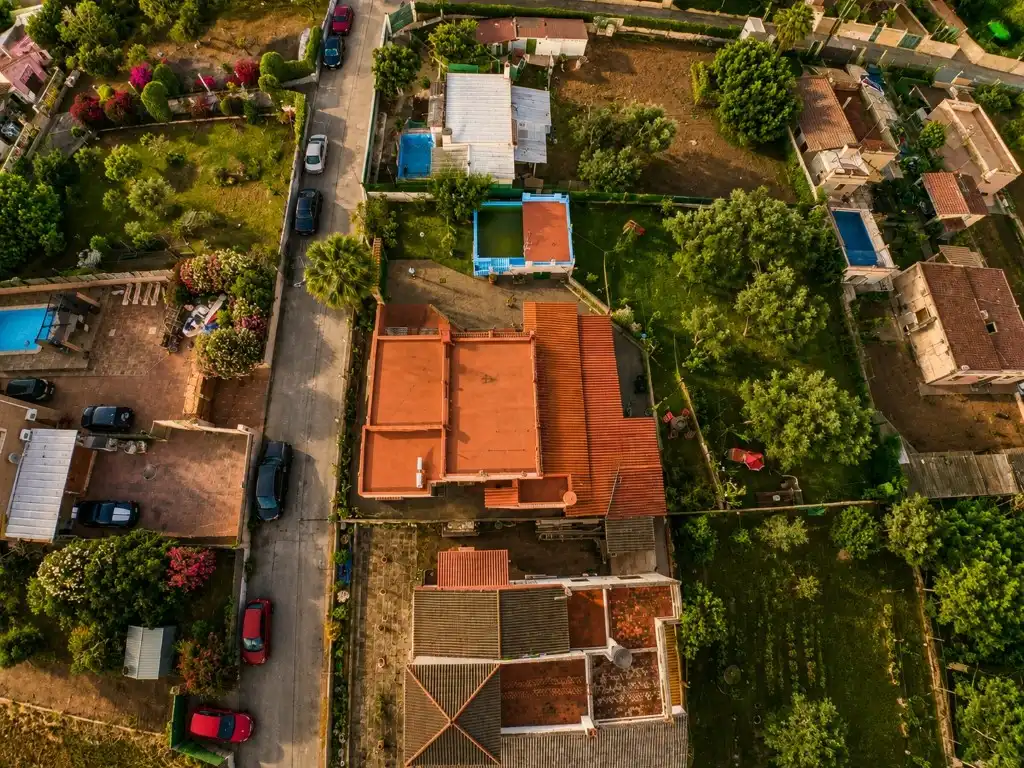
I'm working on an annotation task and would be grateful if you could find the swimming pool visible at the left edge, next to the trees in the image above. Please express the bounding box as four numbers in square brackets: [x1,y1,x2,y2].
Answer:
[0,286,111,381]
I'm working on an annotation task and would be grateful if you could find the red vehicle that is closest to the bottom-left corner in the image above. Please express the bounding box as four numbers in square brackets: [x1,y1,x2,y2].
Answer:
[187,704,256,746]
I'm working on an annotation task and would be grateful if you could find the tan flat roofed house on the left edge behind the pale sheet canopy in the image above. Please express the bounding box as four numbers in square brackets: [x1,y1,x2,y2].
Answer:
[0,394,108,548]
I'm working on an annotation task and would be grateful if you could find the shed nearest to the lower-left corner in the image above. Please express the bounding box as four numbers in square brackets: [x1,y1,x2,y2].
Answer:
[124,624,181,679]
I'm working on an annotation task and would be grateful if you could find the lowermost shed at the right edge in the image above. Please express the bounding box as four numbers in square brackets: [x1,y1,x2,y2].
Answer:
[885,448,1024,499]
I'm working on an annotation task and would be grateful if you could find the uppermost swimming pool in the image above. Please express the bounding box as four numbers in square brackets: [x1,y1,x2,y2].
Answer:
[396,132,434,187]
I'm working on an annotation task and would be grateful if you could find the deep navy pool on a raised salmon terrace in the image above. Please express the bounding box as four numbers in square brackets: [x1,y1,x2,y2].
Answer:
[823,205,897,294]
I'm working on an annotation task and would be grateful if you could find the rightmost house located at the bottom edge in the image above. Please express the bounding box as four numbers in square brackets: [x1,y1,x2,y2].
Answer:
[404,571,695,768]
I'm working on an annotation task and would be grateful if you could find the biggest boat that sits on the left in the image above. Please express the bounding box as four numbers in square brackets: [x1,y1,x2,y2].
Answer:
[183,301,212,334]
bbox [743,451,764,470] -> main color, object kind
red umbrella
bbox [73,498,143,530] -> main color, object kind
black car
